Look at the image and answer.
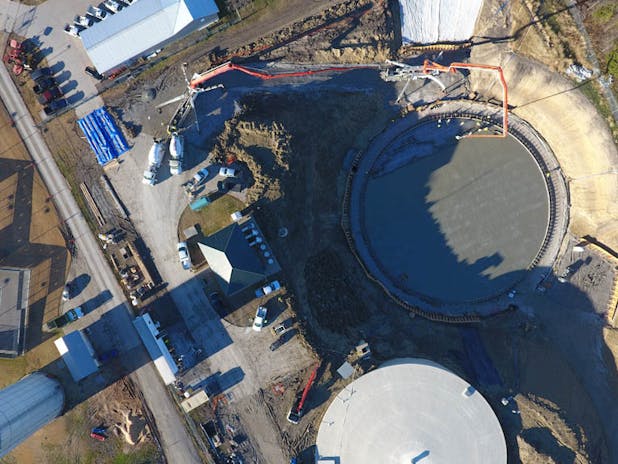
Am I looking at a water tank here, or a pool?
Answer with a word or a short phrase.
water tank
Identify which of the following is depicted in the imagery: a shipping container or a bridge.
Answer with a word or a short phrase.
shipping container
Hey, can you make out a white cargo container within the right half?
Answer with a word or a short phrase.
No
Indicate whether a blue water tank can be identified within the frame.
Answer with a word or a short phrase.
Yes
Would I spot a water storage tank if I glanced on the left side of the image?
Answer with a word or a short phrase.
Yes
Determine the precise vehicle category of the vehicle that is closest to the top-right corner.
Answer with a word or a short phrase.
truck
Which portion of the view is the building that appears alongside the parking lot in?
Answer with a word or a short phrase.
top left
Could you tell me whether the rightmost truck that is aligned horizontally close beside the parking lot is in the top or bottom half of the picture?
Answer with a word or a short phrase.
top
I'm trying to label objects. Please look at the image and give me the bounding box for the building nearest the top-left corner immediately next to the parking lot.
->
[77,0,218,81]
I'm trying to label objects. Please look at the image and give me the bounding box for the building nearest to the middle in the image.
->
[198,221,268,297]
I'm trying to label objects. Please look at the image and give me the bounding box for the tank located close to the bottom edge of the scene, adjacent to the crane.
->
[317,352,507,464]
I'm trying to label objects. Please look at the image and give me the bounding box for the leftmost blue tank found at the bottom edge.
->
[0,371,68,459]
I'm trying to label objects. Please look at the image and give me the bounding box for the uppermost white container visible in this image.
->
[181,385,212,413]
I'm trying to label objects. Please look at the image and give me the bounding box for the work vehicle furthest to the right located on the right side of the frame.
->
[558,270,573,285]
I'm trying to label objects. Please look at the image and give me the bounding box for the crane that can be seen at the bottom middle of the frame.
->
[287,364,318,425]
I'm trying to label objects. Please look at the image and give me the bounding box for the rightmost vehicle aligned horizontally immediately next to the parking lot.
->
[153,60,384,136]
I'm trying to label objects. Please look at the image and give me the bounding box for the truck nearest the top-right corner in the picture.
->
[387,49,509,140]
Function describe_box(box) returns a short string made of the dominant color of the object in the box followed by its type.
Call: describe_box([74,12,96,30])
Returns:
white vehicle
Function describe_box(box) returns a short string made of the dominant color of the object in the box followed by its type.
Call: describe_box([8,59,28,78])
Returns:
red work vehicle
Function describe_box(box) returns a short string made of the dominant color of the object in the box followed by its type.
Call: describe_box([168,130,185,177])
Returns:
white vehicle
